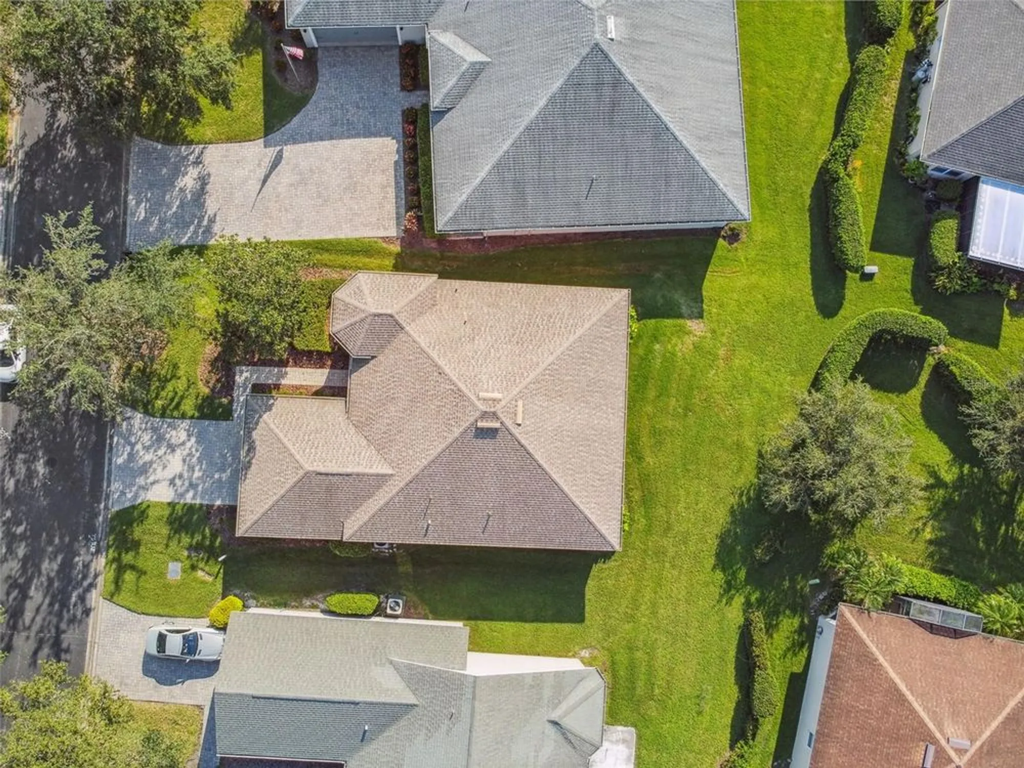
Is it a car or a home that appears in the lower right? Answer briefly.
home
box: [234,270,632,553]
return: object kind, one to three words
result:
house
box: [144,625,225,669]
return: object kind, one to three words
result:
car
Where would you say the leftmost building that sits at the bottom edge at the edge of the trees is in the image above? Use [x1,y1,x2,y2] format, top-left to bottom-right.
[214,608,609,768]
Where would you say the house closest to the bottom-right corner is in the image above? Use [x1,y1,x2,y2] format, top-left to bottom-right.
[790,590,1024,768]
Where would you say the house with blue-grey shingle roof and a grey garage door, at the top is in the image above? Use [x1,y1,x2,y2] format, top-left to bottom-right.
[282,0,751,242]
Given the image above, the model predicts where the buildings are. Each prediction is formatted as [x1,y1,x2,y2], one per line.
[790,590,1024,768]
[234,270,632,553]
[214,608,609,768]
[904,0,1024,277]
[282,0,751,242]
